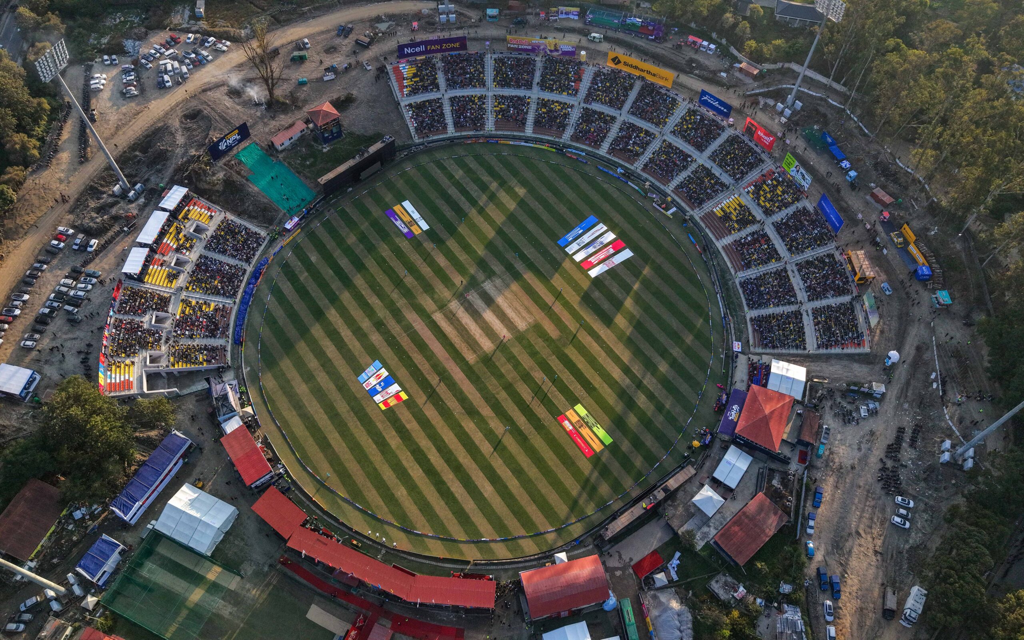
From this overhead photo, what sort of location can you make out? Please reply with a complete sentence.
This image shows a sports ground.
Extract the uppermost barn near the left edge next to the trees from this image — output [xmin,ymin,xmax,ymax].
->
[0,474,64,561]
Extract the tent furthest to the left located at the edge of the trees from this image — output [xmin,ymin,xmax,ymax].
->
[0,363,42,401]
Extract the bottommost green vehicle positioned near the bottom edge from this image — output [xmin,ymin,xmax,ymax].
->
[617,593,639,640]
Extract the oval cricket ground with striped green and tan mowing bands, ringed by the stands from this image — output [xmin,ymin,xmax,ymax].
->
[242,143,725,560]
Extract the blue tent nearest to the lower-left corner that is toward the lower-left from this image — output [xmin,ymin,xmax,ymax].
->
[76,536,127,584]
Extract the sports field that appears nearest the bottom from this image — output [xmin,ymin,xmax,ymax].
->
[113,591,191,636]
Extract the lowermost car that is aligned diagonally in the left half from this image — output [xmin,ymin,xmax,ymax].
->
[19,594,40,612]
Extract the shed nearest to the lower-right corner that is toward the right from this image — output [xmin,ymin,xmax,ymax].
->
[774,604,804,640]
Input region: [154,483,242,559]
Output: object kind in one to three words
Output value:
tent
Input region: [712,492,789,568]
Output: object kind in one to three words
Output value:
shed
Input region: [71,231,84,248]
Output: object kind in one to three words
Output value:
vehicle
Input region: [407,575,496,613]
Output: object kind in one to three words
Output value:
building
